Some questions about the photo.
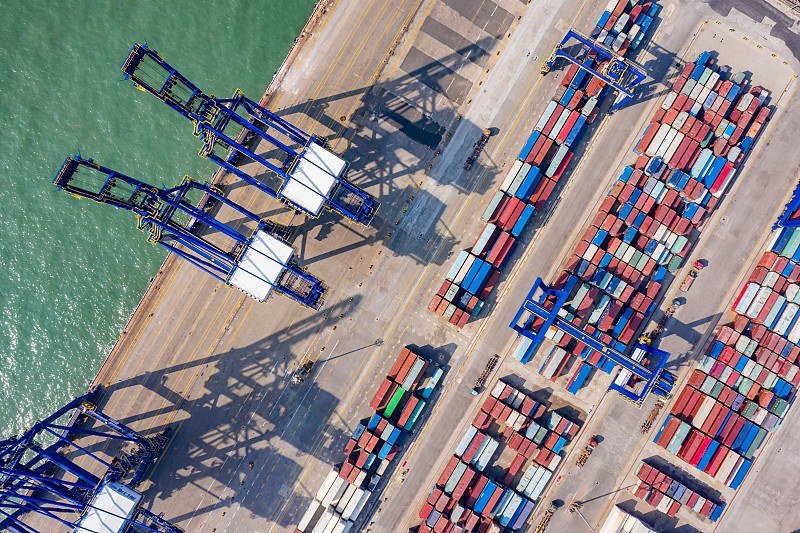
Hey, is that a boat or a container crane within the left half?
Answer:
container crane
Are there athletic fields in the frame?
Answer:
No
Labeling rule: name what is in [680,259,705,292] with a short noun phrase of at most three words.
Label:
truck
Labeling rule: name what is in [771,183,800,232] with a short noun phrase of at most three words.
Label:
container crane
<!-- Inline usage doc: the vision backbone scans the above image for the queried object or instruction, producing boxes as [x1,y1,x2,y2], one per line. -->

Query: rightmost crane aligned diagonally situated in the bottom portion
[508,275,691,410]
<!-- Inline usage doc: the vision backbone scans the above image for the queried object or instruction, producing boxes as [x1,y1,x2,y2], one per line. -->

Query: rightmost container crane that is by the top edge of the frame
[538,23,652,118]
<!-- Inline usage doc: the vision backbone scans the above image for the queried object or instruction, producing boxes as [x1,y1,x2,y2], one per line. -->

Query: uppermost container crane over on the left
[120,38,385,229]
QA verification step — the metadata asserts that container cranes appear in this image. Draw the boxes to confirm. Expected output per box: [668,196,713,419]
[0,386,177,533]
[771,183,800,232]
[538,23,652,118]
[120,38,385,229]
[508,275,691,410]
[52,150,333,317]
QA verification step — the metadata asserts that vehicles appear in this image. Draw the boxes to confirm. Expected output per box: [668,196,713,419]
[536,501,561,533]
[648,296,684,338]
[577,438,599,468]
[641,402,663,435]
[470,353,499,396]
[466,125,493,166]
[680,259,705,292]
